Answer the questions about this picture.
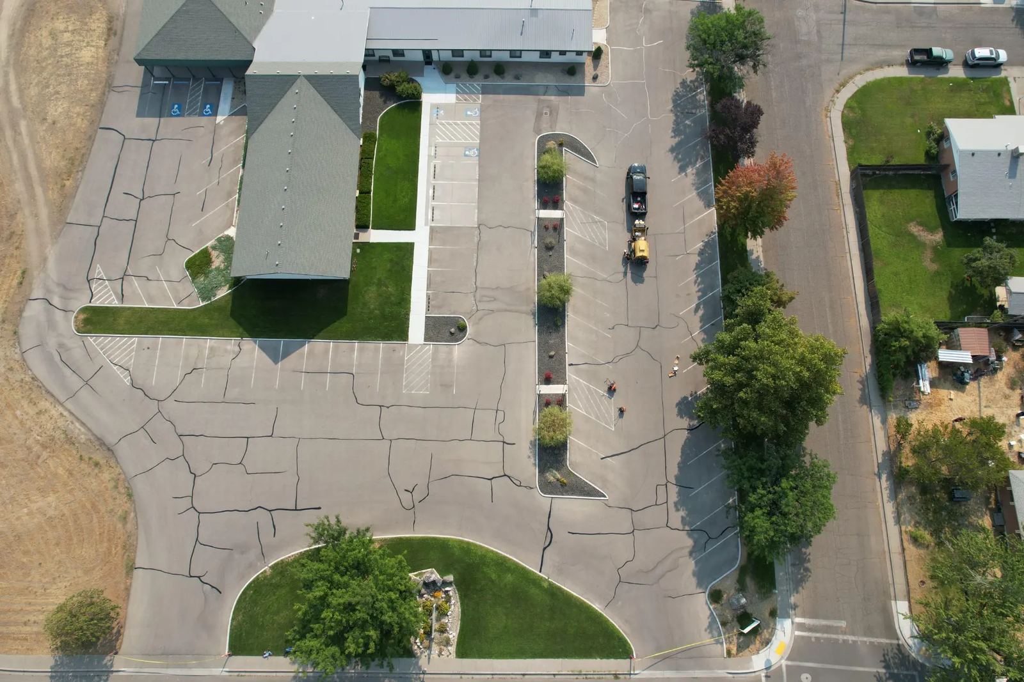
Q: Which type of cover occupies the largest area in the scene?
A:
paved ground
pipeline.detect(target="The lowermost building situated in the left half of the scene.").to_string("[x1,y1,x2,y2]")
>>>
[232,63,367,279]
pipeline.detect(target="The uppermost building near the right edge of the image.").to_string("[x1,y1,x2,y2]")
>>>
[938,115,1024,222]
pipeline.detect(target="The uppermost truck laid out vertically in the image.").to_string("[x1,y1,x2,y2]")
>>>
[628,166,649,217]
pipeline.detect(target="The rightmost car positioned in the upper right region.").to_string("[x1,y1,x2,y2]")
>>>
[963,47,1006,67]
